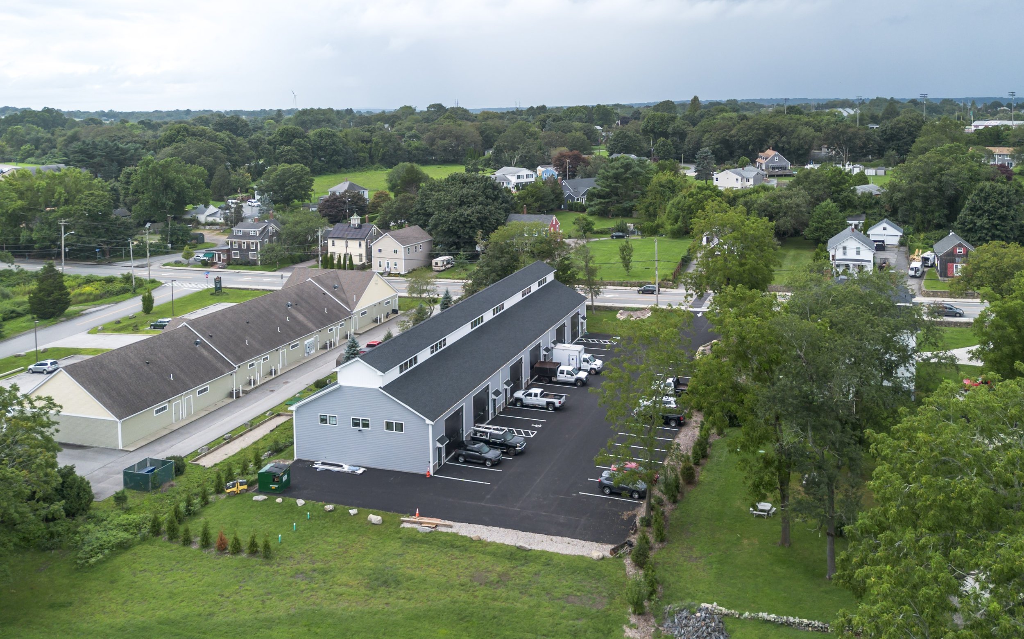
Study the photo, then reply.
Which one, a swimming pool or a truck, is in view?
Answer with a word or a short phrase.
truck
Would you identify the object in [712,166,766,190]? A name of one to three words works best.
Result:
house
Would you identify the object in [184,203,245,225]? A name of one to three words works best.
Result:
building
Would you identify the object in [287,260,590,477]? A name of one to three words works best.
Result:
building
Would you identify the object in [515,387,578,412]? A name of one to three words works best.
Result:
truck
